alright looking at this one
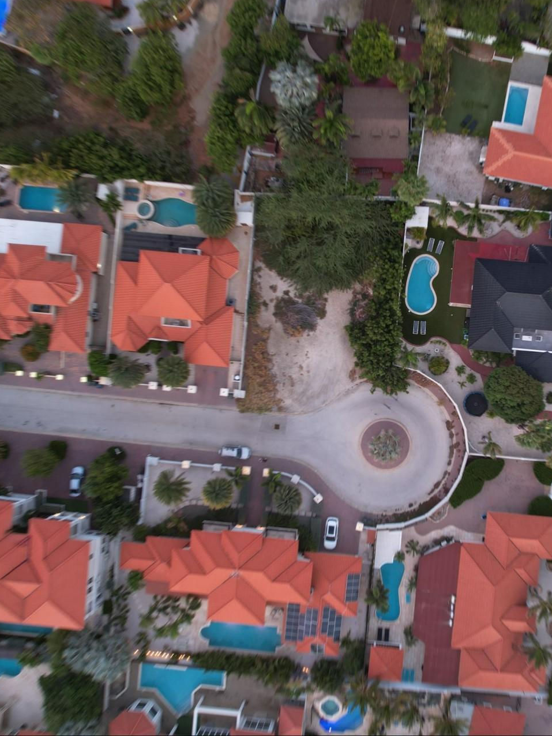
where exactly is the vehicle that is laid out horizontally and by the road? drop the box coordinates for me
[218,445,251,462]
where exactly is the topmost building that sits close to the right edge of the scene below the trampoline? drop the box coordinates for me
[413,510,552,695]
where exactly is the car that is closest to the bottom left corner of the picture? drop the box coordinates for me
[67,466,84,498]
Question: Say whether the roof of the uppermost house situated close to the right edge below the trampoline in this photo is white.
No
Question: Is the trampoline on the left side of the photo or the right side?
right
